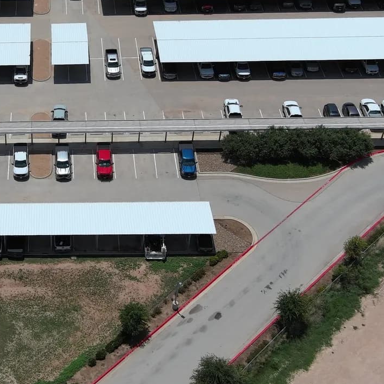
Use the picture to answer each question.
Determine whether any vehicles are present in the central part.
Yes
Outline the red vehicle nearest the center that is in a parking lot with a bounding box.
[95,147,113,180]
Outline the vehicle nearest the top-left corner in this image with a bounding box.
[13,65,28,83]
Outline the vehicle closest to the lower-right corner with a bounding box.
[195,233,214,250]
